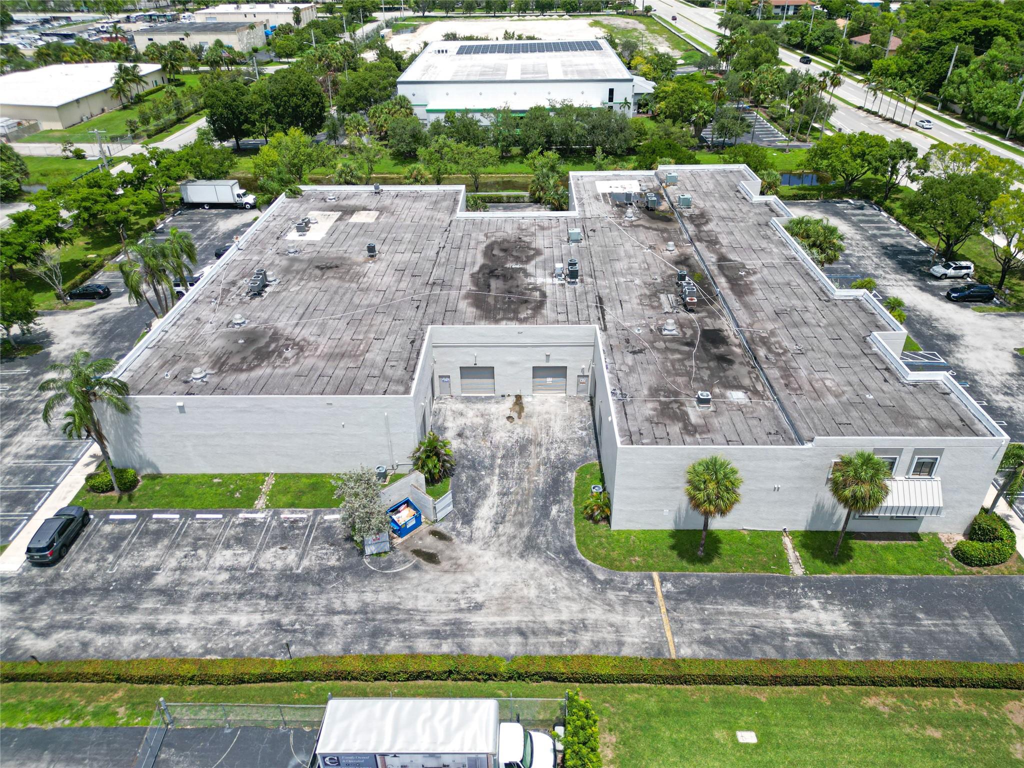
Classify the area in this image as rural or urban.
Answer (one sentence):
From above, the setting appears urban.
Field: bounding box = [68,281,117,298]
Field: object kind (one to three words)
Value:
car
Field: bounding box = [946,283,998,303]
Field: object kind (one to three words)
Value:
car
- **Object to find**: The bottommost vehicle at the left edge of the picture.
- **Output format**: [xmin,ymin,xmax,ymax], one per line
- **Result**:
[32,503,101,559]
